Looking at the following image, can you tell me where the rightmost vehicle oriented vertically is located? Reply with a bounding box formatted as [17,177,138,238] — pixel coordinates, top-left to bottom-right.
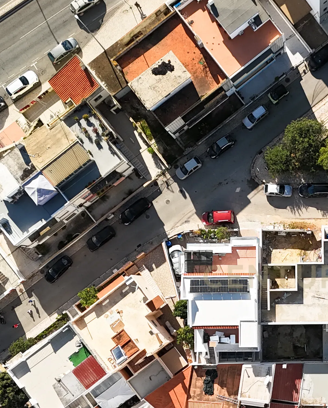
[165,246,181,281]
